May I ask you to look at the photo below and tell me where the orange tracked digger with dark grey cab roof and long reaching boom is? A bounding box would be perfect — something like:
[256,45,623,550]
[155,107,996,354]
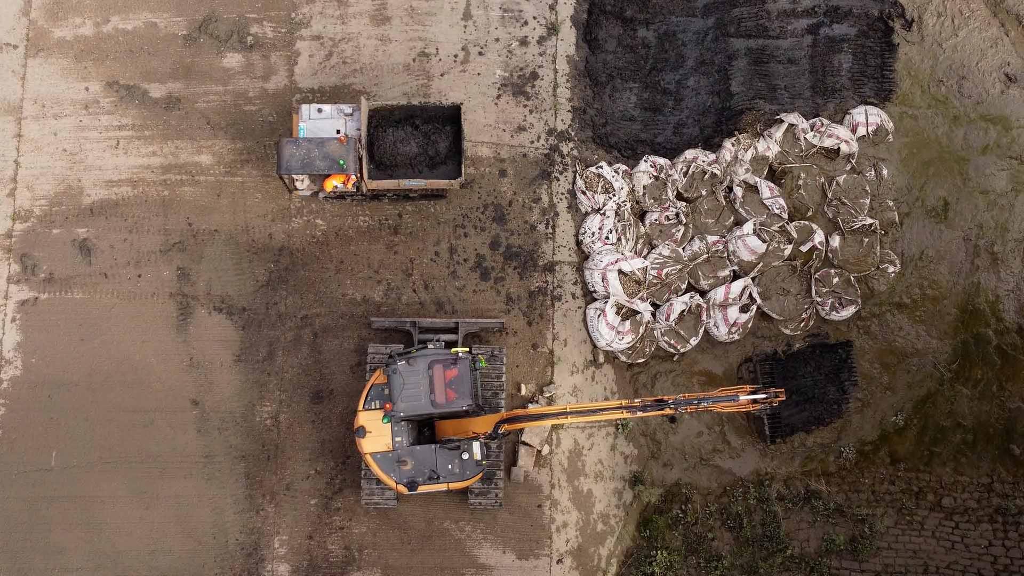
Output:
[355,319,795,508]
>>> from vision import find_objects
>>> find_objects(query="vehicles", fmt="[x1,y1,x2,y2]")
[277,97,466,203]
[355,319,795,508]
